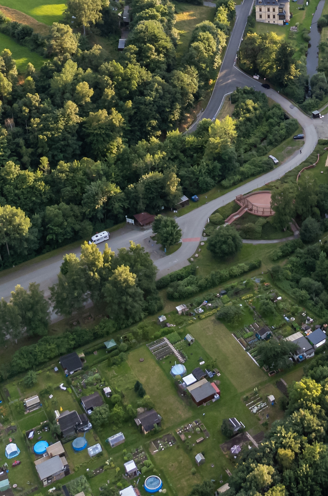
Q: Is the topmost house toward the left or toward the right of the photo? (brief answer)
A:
right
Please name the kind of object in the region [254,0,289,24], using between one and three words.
house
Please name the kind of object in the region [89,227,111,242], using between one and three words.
vehicle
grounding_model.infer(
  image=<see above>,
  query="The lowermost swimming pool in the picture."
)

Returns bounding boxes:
[143,473,164,495]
